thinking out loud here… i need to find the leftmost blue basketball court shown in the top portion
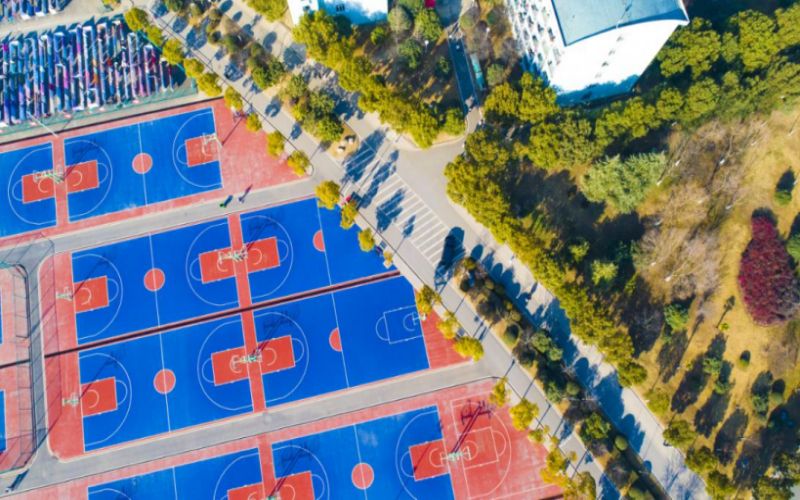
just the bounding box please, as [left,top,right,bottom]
[0,141,56,238]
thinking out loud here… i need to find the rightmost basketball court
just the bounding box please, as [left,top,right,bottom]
[449,390,562,500]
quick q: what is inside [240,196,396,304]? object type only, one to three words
basketball court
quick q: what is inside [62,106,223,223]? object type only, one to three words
basketball court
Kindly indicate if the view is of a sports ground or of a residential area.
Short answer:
sports ground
